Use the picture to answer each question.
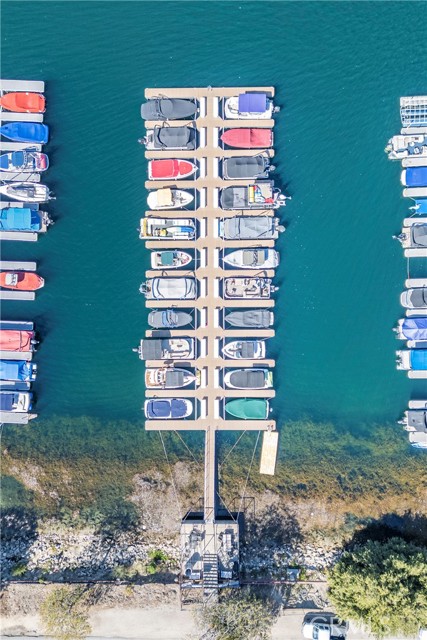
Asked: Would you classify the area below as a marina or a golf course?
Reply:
marina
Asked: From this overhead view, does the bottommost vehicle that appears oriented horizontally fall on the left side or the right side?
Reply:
right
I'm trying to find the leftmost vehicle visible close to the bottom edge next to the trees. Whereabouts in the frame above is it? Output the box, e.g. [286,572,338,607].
[303,620,347,640]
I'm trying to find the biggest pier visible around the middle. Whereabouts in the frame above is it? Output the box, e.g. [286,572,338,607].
[145,88,274,431]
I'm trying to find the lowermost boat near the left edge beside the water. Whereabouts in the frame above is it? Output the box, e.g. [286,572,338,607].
[0,390,39,412]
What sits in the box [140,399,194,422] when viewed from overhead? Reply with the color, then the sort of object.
blue boat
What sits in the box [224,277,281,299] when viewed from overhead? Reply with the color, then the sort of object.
white boat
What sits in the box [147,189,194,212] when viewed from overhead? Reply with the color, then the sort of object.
white boat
